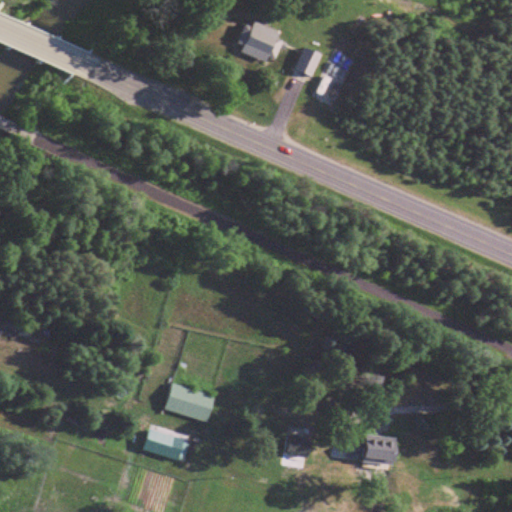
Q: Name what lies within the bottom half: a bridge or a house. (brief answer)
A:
house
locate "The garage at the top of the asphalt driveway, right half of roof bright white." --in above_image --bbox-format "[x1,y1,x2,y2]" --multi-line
[294,48,320,78]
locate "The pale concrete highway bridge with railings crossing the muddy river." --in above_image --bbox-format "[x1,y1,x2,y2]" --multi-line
[0,14,92,84]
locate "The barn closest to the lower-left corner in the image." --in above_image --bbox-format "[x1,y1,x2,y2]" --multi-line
[143,424,189,460]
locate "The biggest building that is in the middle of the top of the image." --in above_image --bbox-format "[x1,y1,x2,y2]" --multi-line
[242,22,283,62]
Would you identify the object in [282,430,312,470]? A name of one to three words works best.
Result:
house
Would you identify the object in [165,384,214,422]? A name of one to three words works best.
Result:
barn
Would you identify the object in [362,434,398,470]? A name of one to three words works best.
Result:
house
